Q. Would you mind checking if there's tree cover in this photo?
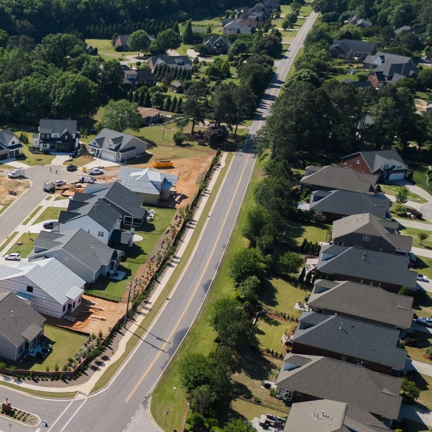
Yes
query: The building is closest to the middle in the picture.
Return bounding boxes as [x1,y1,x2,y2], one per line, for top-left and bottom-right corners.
[128,179,206,214]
